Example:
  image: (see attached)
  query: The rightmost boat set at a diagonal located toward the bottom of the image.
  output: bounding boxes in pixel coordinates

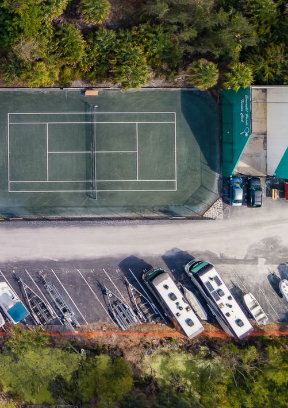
[246,293,268,323]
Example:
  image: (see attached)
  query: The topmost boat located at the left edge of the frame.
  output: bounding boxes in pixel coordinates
[0,282,30,324]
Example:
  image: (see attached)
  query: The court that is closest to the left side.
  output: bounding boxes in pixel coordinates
[0,89,219,220]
